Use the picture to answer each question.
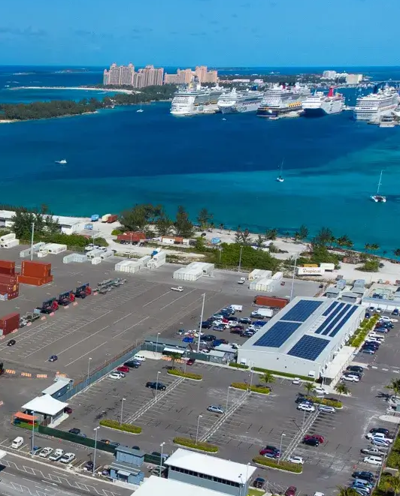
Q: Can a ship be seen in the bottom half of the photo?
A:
No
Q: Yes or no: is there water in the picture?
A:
Yes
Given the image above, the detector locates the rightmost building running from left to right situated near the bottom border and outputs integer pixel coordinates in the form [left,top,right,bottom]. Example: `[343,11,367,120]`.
[161,448,264,496]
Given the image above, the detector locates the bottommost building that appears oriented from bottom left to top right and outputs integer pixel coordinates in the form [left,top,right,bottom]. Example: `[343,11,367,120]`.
[39,371,72,396]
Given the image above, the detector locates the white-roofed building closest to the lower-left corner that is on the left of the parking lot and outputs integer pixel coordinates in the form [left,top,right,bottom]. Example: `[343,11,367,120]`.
[23,394,68,422]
